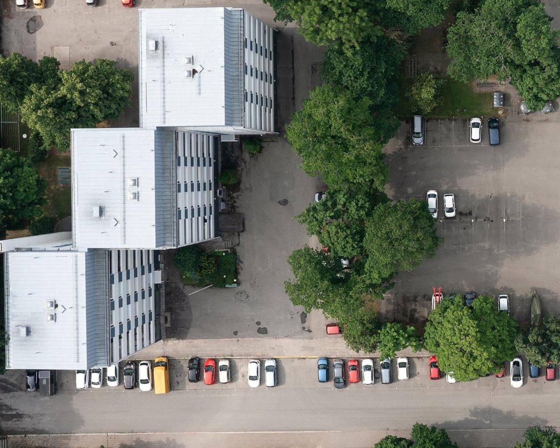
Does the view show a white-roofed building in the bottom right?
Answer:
No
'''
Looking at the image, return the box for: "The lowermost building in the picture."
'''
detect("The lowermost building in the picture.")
[0,246,164,371]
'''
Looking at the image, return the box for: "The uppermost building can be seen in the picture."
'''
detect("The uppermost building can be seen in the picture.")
[137,6,278,134]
